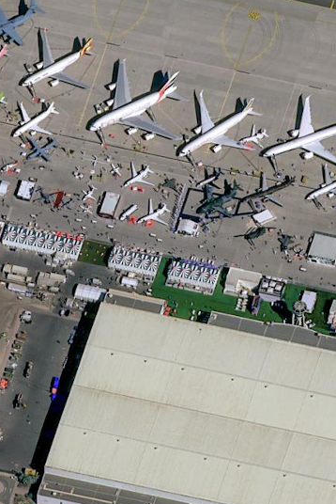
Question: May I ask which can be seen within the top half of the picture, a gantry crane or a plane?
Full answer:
What appears within the top half of the picture is a plane.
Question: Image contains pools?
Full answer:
No, no pool is visible in the view.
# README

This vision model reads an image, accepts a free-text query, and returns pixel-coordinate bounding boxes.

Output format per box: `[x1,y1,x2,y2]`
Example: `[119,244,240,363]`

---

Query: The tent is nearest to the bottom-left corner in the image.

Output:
[74,283,106,304]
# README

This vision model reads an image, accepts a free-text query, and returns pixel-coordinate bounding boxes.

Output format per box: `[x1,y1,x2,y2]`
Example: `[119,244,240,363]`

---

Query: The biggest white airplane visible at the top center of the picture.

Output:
[89,58,189,140]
